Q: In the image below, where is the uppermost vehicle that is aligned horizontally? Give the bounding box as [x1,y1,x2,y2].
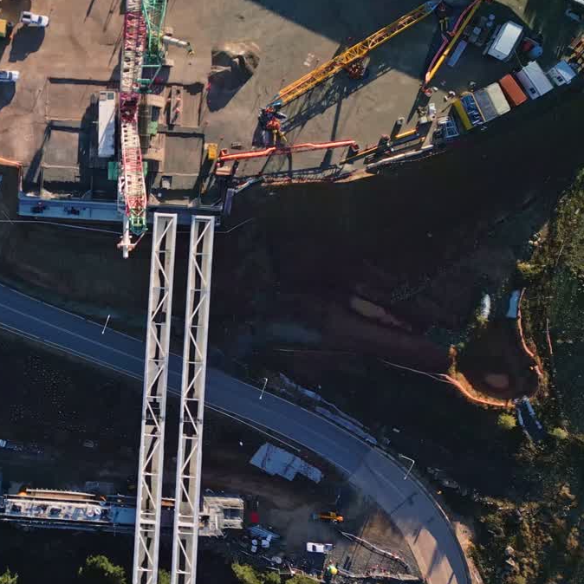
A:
[21,10,49,25]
